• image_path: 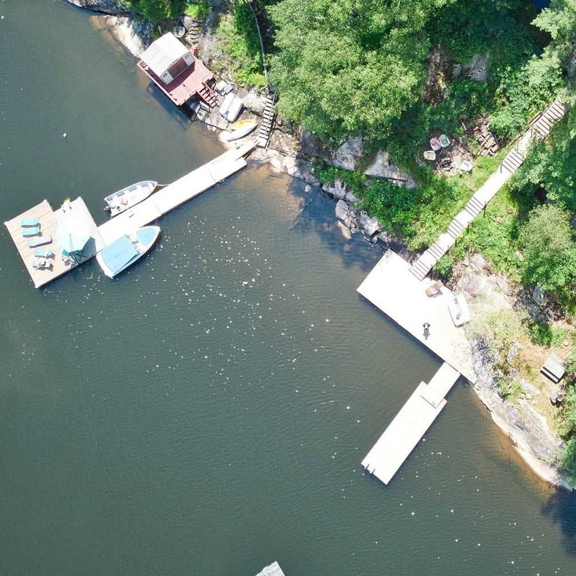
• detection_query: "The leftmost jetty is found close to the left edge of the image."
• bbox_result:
[2,198,80,289]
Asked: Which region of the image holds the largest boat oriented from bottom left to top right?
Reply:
left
